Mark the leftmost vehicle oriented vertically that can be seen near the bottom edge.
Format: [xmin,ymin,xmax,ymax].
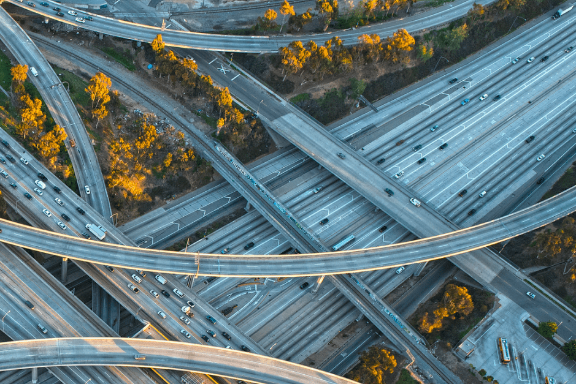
[498,338,510,367]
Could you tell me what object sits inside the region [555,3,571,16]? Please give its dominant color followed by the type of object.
blue vehicle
